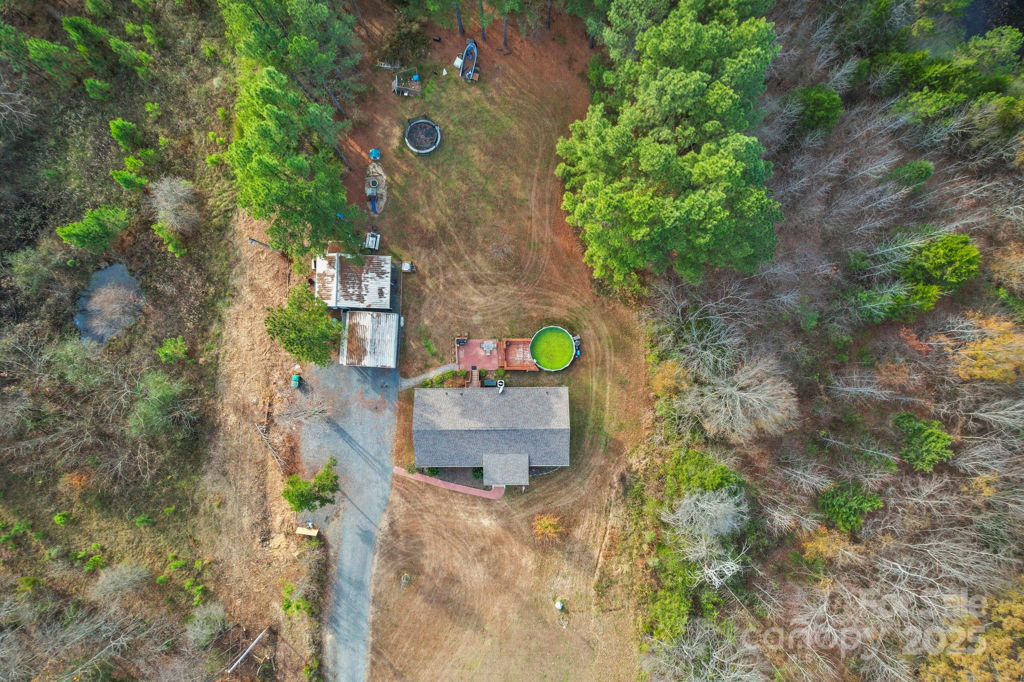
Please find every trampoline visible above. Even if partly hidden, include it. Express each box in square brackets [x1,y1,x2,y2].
[402,110,442,153]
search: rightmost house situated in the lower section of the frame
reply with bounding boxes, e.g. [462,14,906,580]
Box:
[411,386,571,489]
